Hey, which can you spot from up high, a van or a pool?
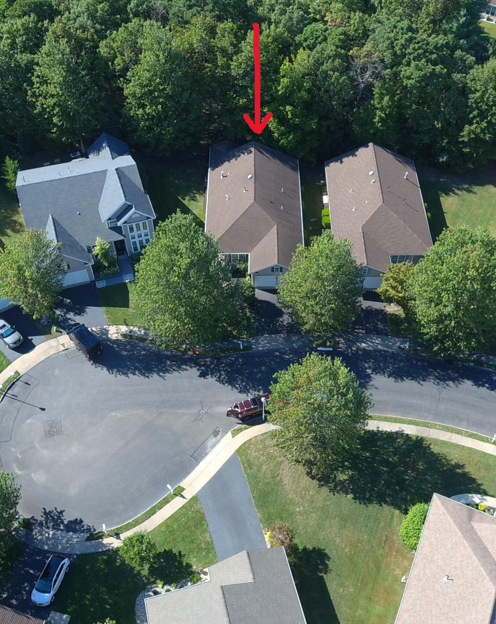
van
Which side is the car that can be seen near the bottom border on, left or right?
left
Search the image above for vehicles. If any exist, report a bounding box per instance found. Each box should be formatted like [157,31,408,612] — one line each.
[66,324,100,359]
[31,552,69,606]
[232,395,277,422]
[0,317,22,348]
